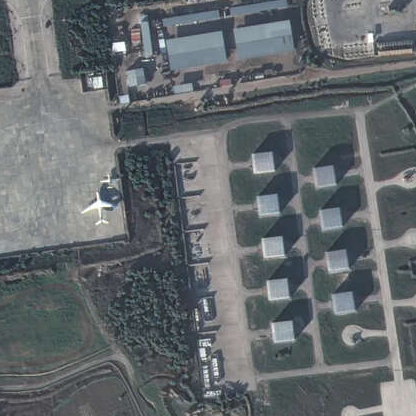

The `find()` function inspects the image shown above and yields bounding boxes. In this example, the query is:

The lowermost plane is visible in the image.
[81,191,119,223]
